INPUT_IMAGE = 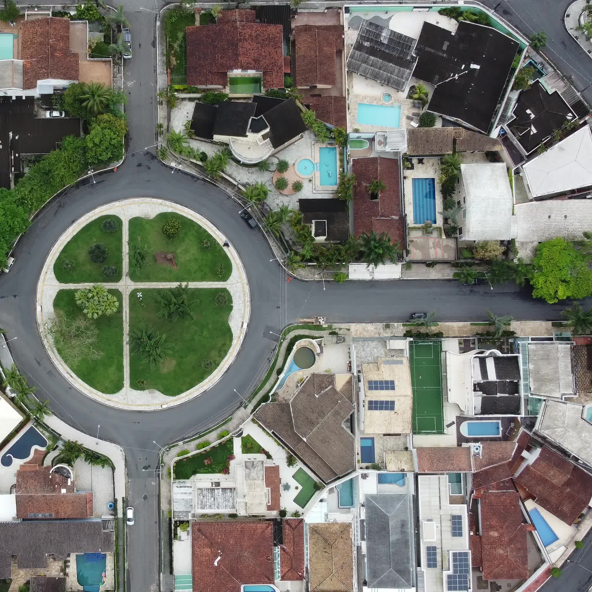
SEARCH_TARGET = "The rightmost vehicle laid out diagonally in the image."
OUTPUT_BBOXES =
[239,209,258,231]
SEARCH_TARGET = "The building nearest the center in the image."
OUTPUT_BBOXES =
[297,199,349,244]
